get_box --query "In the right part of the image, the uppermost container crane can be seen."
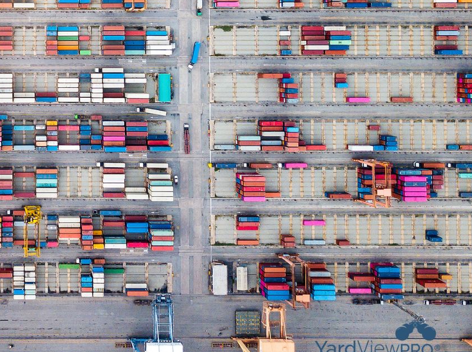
[353,158,393,207]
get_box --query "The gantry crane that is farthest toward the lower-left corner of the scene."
[20,206,44,258]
